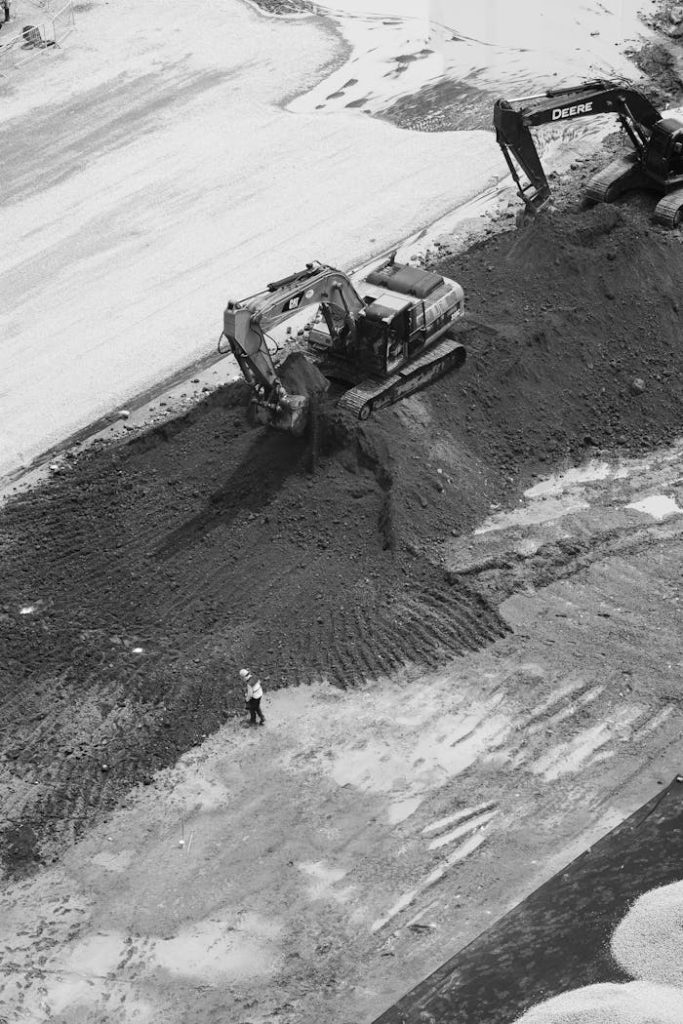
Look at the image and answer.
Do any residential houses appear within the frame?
No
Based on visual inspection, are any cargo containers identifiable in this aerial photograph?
No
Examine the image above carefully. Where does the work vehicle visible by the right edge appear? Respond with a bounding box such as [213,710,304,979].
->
[495,63,683,231]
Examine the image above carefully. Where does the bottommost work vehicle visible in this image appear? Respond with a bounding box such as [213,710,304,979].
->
[218,254,472,436]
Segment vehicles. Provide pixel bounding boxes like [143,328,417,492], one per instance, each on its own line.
[495,63,683,231]
[218,254,472,436]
